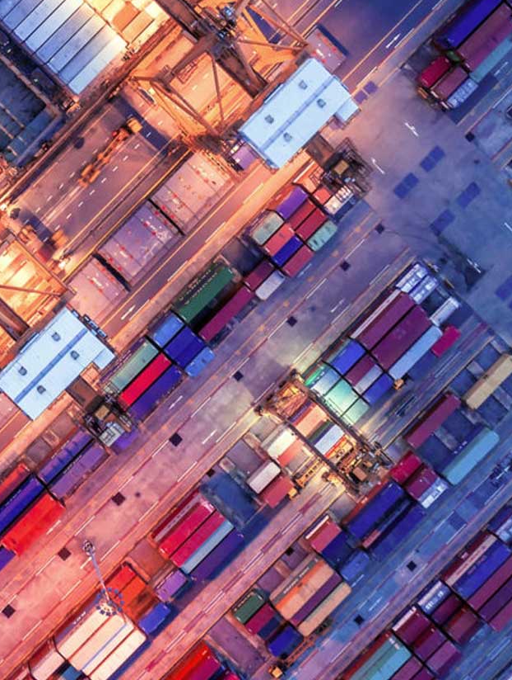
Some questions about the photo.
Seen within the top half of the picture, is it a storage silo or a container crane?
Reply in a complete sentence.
There is a container crane within the top half of the picture.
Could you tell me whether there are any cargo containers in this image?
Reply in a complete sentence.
Yes, I can see a cargo container in this picture.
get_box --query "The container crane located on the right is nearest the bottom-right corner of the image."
[254,370,397,507]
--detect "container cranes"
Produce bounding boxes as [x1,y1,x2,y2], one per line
[0,194,139,450]
[254,370,397,507]
[107,0,379,204]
